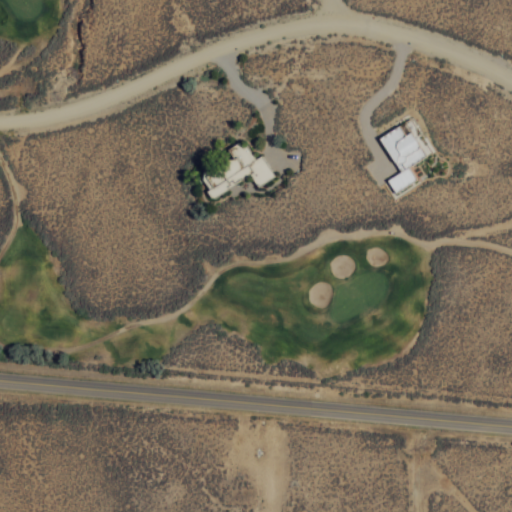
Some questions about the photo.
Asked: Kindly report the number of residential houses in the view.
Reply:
2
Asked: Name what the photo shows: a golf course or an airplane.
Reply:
golf course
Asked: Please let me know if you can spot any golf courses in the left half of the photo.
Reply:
Yes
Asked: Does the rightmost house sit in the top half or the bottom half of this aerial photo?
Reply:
top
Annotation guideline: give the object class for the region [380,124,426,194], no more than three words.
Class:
house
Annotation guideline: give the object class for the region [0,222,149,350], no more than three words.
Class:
golf course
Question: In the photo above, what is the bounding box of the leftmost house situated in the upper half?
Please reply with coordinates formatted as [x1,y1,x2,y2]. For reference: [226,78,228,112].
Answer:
[202,143,276,200]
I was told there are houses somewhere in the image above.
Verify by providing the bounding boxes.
[380,124,426,194]
[202,143,276,200]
